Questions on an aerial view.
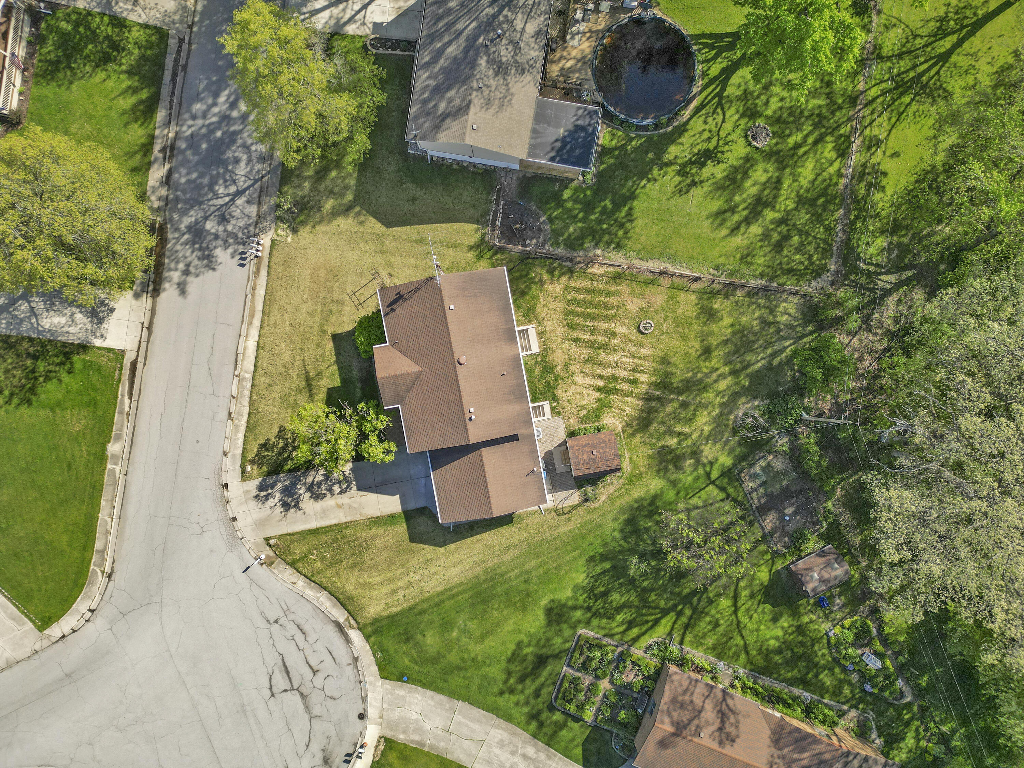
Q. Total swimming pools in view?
one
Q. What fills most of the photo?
grass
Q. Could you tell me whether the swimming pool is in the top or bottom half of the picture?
top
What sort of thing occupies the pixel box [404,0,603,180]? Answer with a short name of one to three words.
house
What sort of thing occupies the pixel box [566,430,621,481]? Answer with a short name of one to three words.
shed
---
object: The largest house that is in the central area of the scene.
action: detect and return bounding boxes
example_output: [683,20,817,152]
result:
[373,266,550,531]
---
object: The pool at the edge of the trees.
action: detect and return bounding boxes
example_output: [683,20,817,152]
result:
[591,17,698,128]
